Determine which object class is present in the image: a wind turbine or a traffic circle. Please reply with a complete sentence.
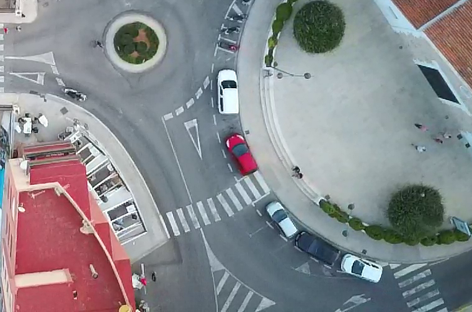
Visible in the photo is a traffic circle.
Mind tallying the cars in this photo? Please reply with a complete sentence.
The number of cars here is 5.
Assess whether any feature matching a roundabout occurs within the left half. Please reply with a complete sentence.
Yes, a roundabout shows up within the left half.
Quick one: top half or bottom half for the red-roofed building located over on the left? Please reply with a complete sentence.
It is in the bottom half that the red-roofed building located over on the left appears.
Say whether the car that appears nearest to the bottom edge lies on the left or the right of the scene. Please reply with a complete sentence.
The car that appears nearest to the bottom edge is on the right side of the image.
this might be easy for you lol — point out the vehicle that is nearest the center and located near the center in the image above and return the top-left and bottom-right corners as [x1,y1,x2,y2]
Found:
[224,132,258,178]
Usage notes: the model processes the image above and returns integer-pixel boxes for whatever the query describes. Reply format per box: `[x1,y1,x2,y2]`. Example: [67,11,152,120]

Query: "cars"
[338,251,386,284]
[293,229,343,268]
[216,69,242,115]
[264,199,300,242]
[224,132,258,178]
